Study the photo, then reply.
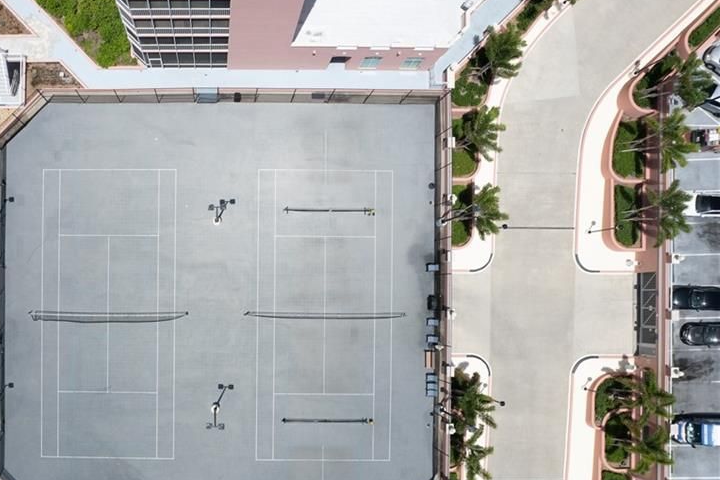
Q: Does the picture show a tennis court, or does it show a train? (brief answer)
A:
tennis court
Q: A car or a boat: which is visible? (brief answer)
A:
car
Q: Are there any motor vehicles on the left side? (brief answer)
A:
No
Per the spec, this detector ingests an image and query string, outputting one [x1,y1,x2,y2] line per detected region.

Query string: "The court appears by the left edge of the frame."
[0,102,216,480]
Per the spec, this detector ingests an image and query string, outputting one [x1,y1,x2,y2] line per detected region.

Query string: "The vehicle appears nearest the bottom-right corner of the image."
[674,419,720,446]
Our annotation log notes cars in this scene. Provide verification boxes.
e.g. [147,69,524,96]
[698,43,720,78]
[674,285,720,311]
[674,419,720,446]
[682,190,720,217]
[678,320,720,346]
